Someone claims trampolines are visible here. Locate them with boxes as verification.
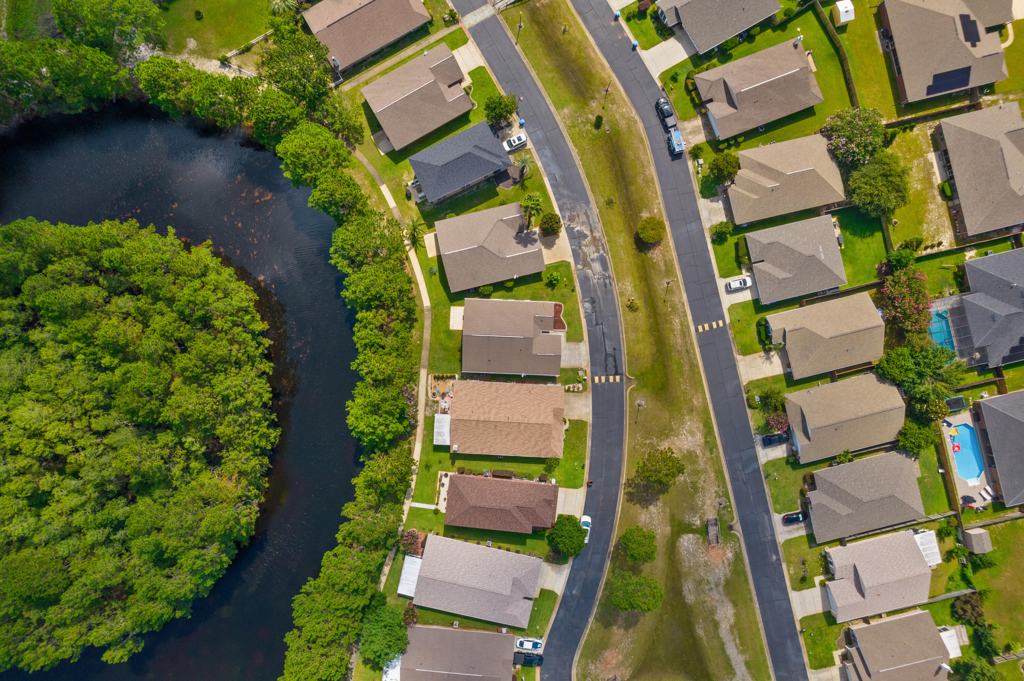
[946,395,972,412]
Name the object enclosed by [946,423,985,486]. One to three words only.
swimming pool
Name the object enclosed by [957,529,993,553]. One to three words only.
shed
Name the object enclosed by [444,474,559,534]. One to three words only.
house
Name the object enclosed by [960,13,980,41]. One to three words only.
solar panel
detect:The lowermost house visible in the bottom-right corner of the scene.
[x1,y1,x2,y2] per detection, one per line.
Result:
[842,610,957,681]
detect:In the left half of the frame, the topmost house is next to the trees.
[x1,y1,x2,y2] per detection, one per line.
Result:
[302,0,431,74]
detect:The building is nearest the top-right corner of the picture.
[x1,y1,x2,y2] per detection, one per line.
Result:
[878,0,1015,104]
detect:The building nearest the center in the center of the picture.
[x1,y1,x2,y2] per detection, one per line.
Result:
[462,298,561,376]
